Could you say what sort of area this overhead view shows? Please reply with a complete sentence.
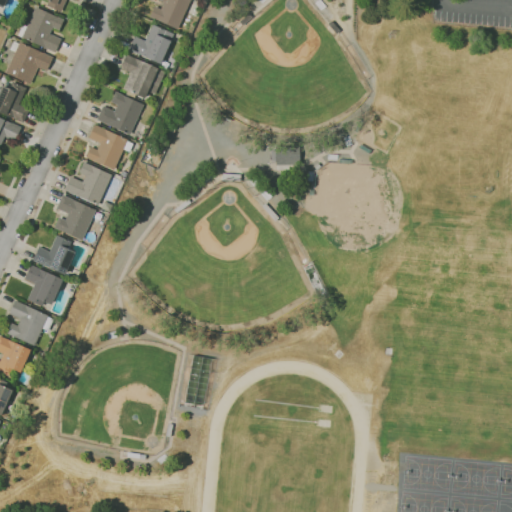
It's a sports ground.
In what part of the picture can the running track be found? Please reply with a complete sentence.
The running track appears toward the bottom of the photo.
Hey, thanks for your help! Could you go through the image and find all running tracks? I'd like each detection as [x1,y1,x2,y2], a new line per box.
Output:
[202,358,368,512]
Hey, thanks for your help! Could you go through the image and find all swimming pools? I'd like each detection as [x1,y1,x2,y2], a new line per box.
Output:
[2,0,20,18]
[51,289,72,315]
[70,244,86,270]
[85,232,97,244]
[18,371,31,386]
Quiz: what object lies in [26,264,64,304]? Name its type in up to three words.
house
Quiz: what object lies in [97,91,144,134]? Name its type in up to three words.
house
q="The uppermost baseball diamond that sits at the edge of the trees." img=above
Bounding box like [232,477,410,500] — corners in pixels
[196,0,375,134]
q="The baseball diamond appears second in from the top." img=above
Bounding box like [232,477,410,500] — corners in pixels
[132,181,315,333]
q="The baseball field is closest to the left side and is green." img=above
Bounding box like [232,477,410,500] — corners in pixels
[54,334,182,456]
